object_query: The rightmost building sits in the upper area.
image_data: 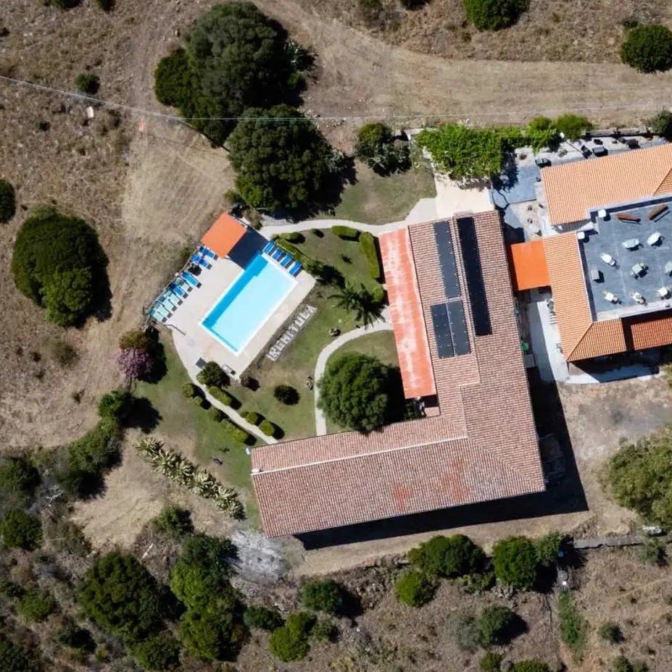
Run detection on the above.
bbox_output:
[540,142,672,361]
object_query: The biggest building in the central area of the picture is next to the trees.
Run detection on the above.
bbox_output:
[249,211,545,537]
